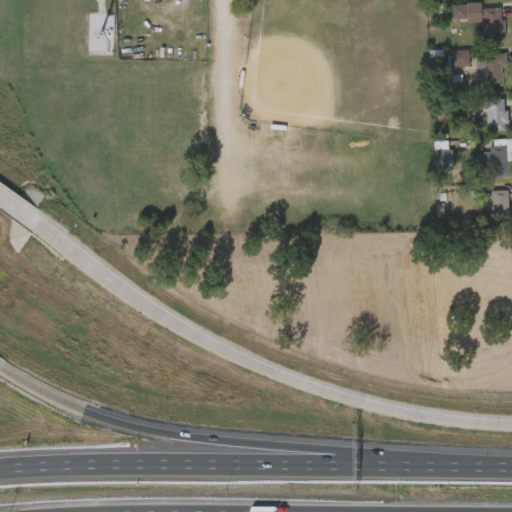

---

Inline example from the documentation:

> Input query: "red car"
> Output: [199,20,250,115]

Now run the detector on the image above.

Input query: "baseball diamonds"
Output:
[244,0,432,132]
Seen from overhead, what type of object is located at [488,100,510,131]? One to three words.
house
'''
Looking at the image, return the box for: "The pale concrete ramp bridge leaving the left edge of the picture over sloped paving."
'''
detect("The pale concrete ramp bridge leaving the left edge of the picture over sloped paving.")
[0,182,94,253]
